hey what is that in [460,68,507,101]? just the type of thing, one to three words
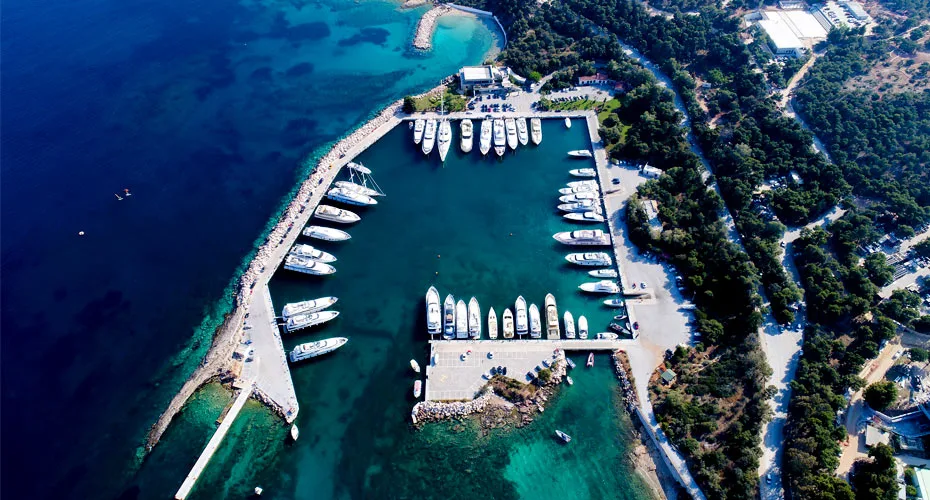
building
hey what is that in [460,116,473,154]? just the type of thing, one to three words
boat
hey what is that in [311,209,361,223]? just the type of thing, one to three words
boat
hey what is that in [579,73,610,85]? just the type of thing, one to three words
house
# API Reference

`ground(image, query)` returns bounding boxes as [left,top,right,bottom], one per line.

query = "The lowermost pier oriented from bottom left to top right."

[176,383,255,500]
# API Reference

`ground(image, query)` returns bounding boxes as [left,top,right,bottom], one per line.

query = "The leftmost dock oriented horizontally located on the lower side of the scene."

[412,339,632,419]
